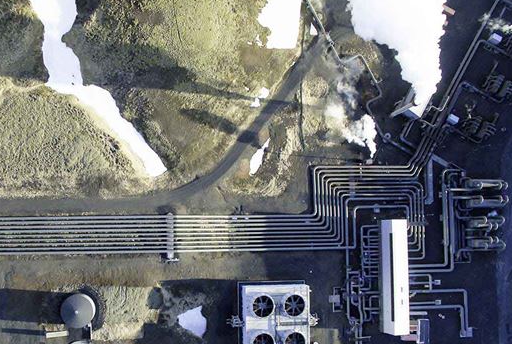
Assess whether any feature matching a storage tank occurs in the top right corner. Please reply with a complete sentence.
No, the scene shows no storage tank in the top right corner.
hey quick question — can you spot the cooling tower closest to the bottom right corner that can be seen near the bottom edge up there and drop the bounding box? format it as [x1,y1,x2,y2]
[238,281,312,344]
